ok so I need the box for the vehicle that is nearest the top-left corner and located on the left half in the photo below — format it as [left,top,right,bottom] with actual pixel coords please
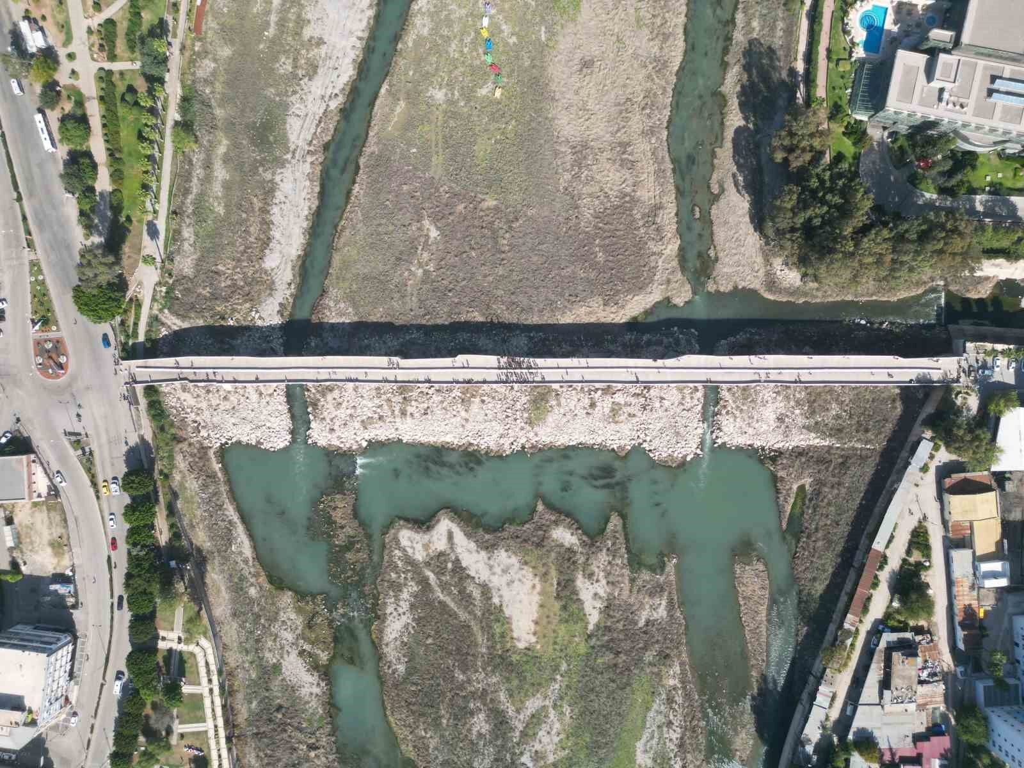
[7,77,23,96]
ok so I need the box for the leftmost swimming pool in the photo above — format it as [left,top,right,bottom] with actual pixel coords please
[857,3,890,56]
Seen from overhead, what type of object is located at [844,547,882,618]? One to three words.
shed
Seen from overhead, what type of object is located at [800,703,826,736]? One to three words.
shed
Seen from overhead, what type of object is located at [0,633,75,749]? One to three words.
building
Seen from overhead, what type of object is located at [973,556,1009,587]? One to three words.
house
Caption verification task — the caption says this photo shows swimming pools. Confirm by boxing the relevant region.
[857,3,890,56]
[924,14,937,27]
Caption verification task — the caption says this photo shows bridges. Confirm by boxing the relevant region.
[122,355,960,385]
